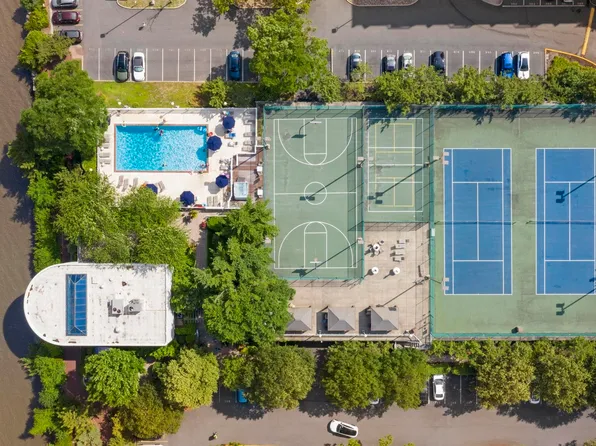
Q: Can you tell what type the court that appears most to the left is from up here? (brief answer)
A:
basketball court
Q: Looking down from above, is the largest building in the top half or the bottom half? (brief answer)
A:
bottom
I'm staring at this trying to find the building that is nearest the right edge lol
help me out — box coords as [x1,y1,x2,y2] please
[370,305,398,332]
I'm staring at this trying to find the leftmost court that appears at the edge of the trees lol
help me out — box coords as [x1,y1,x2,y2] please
[264,109,361,278]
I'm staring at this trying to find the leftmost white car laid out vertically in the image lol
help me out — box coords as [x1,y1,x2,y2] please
[132,51,145,82]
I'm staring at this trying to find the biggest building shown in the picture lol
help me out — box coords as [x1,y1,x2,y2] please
[23,259,174,352]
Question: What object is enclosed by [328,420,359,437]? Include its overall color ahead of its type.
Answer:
white car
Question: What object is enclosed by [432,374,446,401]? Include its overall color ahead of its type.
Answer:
white vehicle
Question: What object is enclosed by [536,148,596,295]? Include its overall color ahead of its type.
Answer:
blue tennis court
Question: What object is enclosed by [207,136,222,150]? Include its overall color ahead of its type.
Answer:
blue umbrella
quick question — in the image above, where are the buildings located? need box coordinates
[285,305,312,332]
[23,259,174,352]
[370,305,398,332]
[327,305,355,332]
